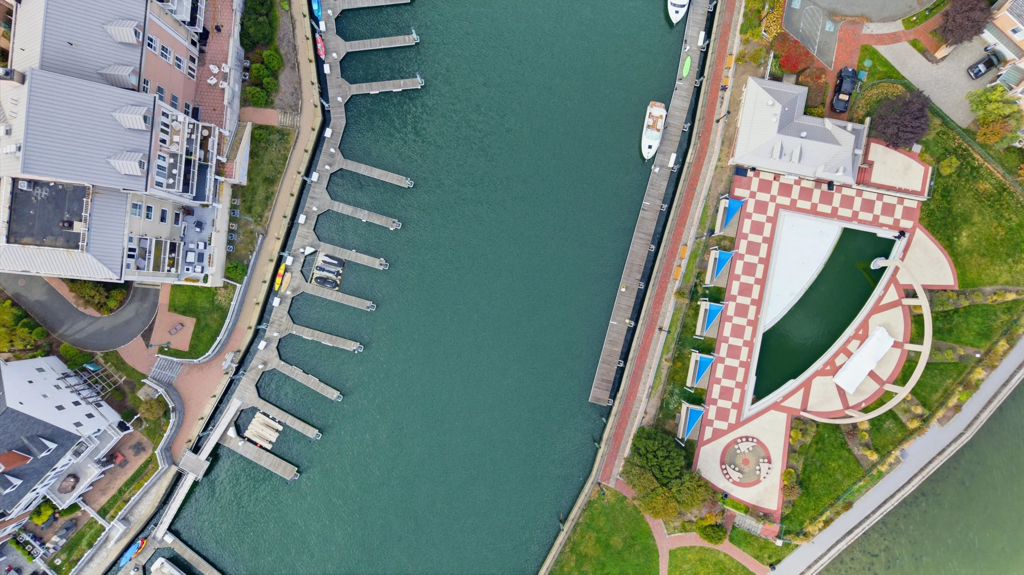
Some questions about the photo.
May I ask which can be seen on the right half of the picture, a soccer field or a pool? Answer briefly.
pool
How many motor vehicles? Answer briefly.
two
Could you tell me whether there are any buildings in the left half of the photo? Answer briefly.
Yes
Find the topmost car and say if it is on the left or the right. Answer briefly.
right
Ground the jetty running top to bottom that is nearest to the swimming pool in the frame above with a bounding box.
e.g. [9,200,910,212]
[588,0,708,406]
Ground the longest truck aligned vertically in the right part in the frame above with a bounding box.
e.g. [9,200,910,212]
[832,64,859,114]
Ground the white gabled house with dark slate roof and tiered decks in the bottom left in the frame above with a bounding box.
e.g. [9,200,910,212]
[0,356,137,555]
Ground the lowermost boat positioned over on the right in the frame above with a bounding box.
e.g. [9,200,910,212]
[642,99,666,159]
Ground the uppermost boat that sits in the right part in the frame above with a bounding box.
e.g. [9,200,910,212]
[669,0,693,28]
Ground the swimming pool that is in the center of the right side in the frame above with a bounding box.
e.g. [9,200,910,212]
[739,207,910,423]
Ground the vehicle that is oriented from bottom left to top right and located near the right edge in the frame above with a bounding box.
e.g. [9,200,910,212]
[967,48,1005,82]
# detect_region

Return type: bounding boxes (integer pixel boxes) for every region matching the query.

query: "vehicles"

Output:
[967,48,1005,82]
[832,64,859,114]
